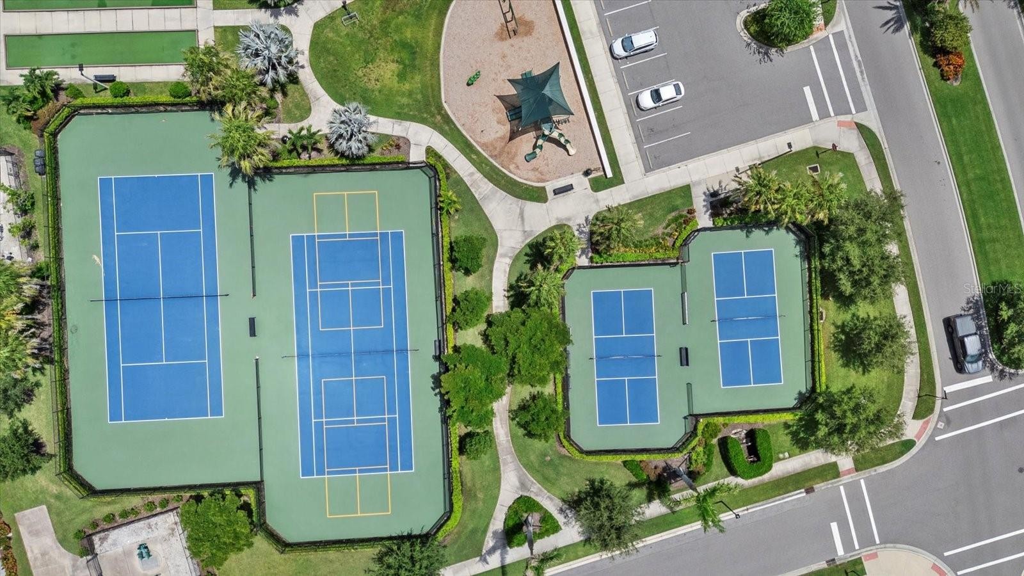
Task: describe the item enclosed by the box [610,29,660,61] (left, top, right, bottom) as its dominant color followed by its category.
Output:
white car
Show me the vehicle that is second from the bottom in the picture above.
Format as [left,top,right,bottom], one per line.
[635,80,687,112]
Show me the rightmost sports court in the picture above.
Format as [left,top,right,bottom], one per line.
[681,225,813,414]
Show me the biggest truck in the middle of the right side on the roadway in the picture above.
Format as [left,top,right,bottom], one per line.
[947,316,985,376]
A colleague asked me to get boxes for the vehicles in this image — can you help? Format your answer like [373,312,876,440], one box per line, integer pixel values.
[635,80,687,112]
[947,316,985,376]
[610,29,660,61]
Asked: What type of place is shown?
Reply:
sports ground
